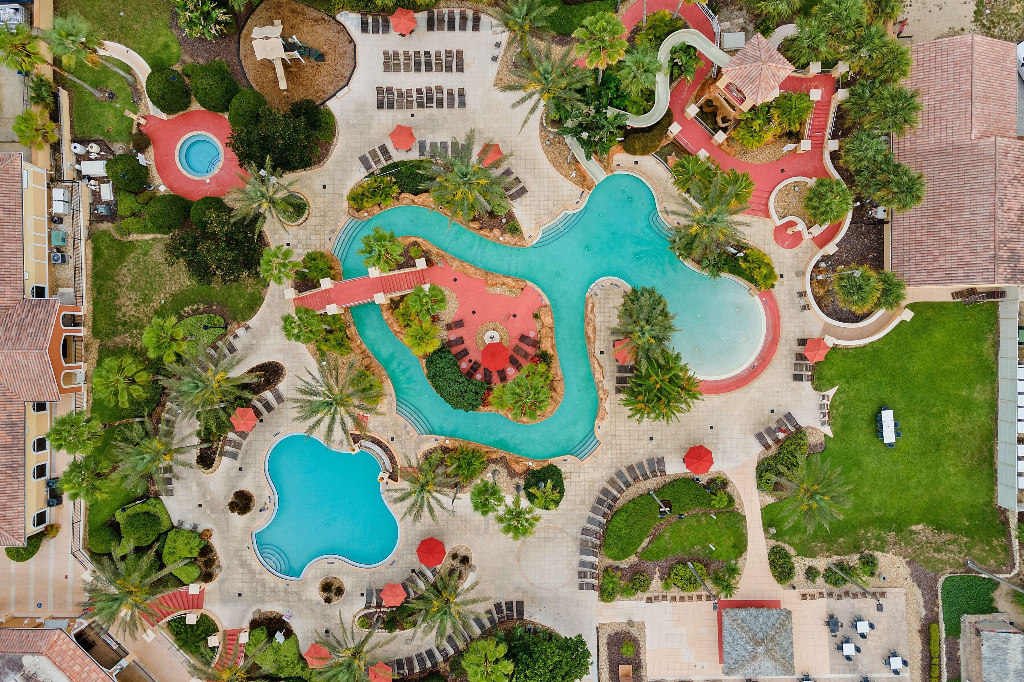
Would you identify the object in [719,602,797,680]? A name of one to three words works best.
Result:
shed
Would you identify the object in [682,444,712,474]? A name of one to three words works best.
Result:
umbrella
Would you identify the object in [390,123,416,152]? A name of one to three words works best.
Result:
umbrella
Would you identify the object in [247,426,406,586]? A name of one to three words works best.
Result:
swimming pool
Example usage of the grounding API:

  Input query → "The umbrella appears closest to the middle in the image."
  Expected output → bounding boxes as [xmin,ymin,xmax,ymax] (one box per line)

[481,342,510,371]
